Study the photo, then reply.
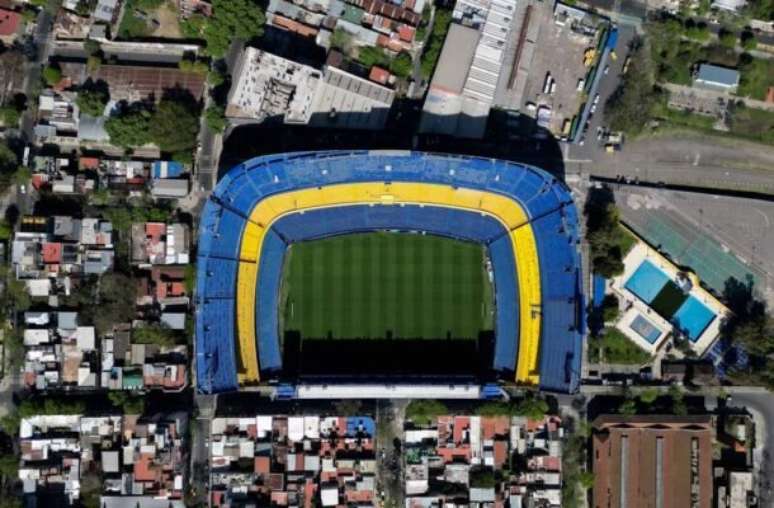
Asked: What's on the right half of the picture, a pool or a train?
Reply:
pool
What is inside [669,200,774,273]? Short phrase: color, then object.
gray sports court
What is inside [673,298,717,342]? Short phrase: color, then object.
blue swimming pool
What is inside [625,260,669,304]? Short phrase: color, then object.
blue swimming pool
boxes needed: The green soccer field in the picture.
[276,233,498,382]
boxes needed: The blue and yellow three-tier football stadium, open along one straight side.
[195,150,583,399]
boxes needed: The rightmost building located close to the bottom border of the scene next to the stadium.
[589,412,711,508]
